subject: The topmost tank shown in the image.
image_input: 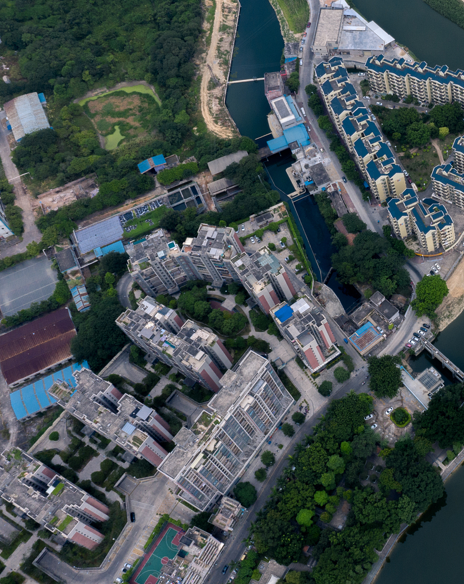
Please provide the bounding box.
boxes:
[167,182,206,212]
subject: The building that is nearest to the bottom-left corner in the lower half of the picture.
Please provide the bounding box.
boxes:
[0,444,119,553]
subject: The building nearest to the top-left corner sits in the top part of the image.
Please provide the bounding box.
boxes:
[3,92,49,130]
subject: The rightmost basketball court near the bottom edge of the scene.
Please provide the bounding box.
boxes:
[132,523,184,584]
